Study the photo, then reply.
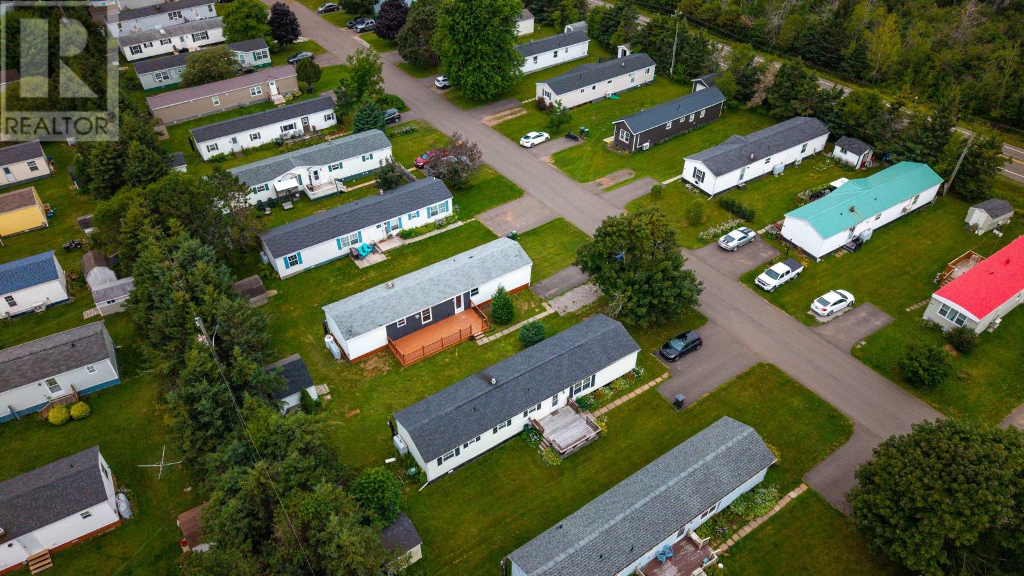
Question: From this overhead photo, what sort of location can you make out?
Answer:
residential area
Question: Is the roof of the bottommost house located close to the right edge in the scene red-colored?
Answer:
Yes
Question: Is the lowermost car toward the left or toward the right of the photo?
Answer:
right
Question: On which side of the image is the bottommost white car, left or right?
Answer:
right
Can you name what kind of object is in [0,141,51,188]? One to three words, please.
house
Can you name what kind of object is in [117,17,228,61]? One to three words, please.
house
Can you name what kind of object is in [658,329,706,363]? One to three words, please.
car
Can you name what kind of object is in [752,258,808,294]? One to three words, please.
truck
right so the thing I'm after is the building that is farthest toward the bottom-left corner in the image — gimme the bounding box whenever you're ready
[0,446,121,574]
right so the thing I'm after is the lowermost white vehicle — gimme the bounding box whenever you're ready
[810,289,854,320]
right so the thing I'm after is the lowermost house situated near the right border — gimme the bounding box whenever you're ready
[924,231,1024,335]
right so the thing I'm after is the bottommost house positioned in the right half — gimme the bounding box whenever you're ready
[507,415,776,576]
